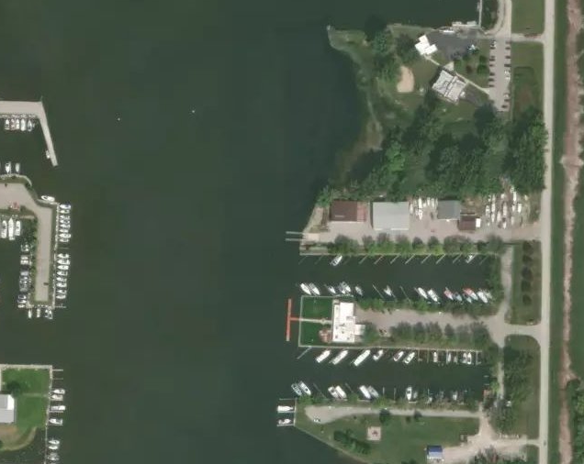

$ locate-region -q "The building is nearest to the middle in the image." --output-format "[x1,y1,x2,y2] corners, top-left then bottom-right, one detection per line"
[330,201,366,221]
